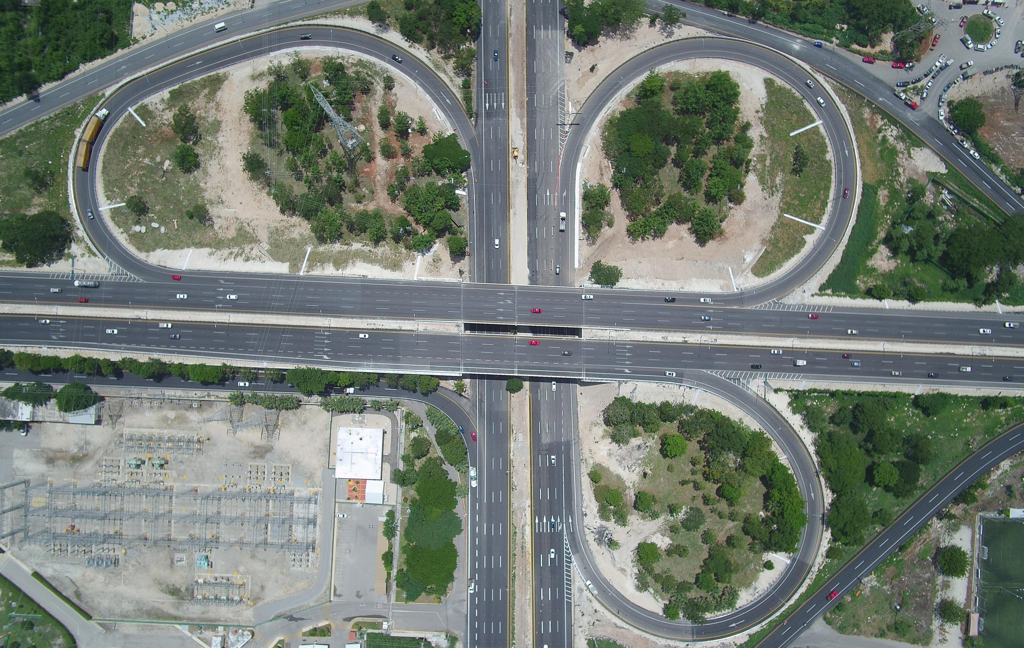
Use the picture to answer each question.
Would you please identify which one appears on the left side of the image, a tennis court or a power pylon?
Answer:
power pylon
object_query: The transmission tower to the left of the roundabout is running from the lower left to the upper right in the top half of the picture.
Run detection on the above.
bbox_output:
[886,0,960,44]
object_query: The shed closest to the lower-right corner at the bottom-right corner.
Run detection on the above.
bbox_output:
[962,610,979,636]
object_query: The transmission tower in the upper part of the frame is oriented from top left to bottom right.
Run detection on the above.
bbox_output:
[307,84,369,155]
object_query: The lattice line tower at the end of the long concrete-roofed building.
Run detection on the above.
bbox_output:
[61,400,123,420]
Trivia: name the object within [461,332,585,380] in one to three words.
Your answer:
bridge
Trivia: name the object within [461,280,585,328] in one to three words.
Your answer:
bridge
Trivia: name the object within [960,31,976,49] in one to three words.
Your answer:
vehicle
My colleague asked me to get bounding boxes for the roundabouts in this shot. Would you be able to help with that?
[964,13,995,44]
